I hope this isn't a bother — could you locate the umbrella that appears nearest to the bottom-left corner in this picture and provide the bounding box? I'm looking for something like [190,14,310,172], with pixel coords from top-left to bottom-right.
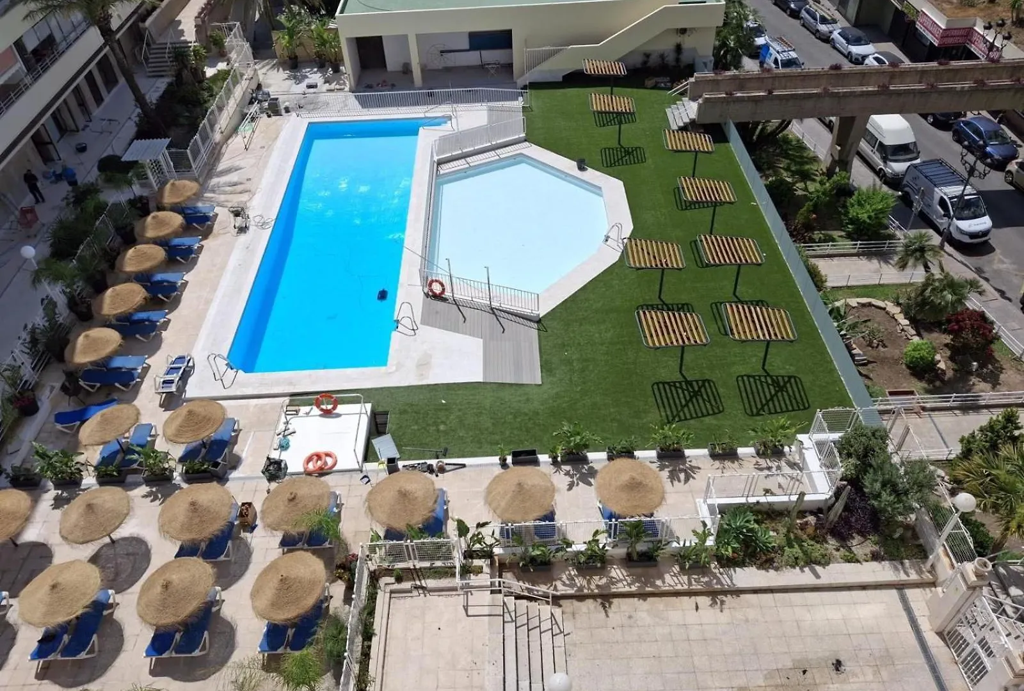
[12,560,96,637]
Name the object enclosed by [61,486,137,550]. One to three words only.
umbrella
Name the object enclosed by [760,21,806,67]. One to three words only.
van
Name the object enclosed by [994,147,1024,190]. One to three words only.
car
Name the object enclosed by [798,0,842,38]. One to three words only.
car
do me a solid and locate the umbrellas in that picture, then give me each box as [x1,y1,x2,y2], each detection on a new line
[97,288,156,340]
[65,330,127,378]
[242,547,323,618]
[12,560,96,637]
[162,395,231,448]
[599,455,669,519]
[81,402,150,454]
[121,556,206,631]
[160,483,236,543]
[365,469,436,531]
[162,182,209,231]
[260,476,333,541]
[139,215,189,265]
[120,247,174,292]
[488,460,559,525]
[61,486,137,550]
